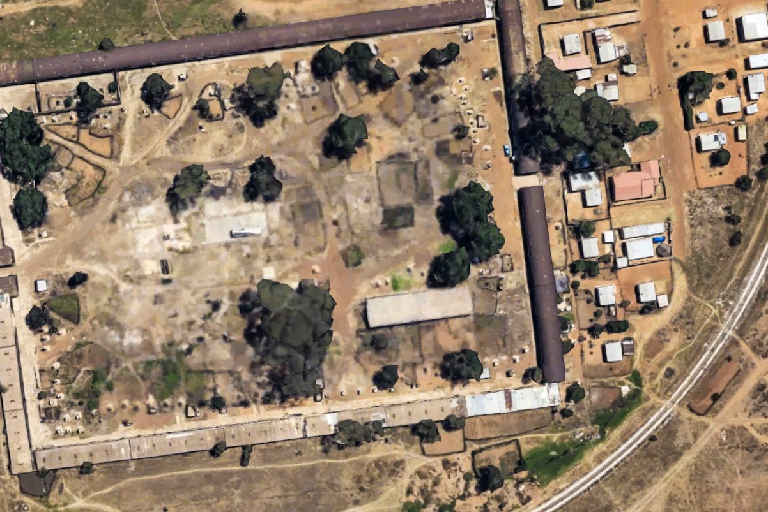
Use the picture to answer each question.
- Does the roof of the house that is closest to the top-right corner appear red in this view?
No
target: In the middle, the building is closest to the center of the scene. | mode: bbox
[367,288,472,326]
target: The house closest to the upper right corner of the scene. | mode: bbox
[740,13,768,40]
